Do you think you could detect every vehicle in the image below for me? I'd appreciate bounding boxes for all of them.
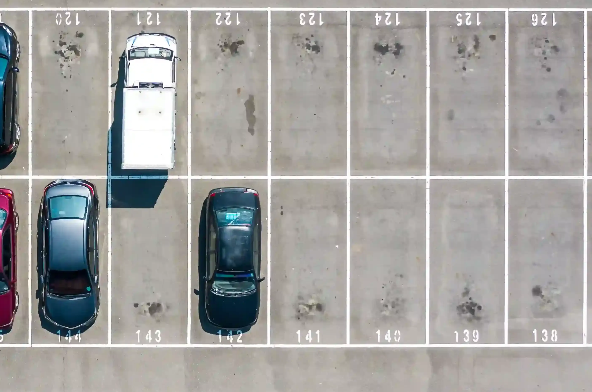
[0,189,20,327]
[115,32,184,171]
[36,179,101,327]
[0,25,24,156]
[201,187,267,327]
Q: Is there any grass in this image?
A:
No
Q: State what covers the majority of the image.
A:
paved ground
